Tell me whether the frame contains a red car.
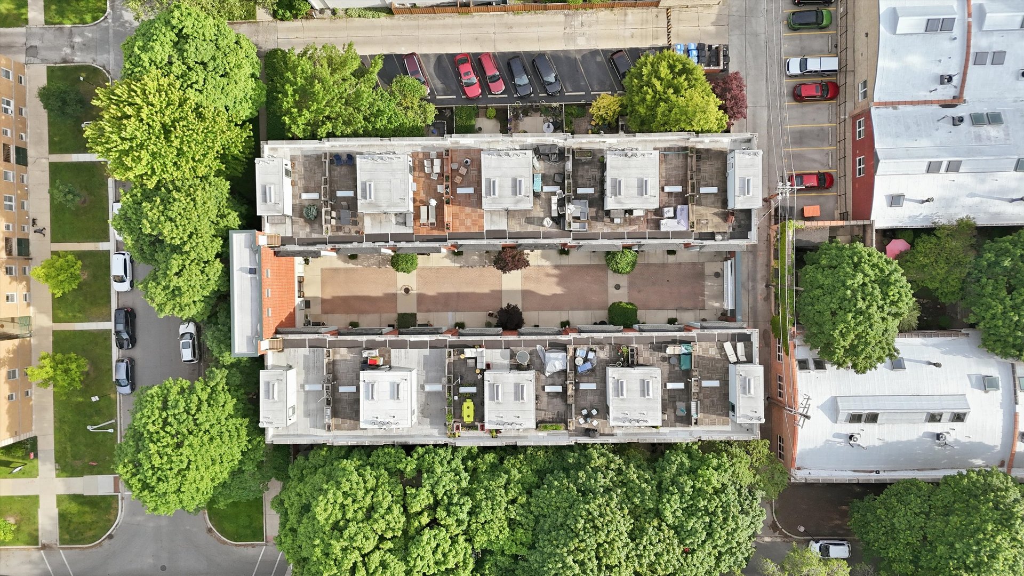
Yes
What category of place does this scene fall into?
industrial area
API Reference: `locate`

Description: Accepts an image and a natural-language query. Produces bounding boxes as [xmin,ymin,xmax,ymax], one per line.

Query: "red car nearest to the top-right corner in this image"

[793,80,838,102]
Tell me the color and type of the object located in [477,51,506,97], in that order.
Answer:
red car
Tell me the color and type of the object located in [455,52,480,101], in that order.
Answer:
red car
